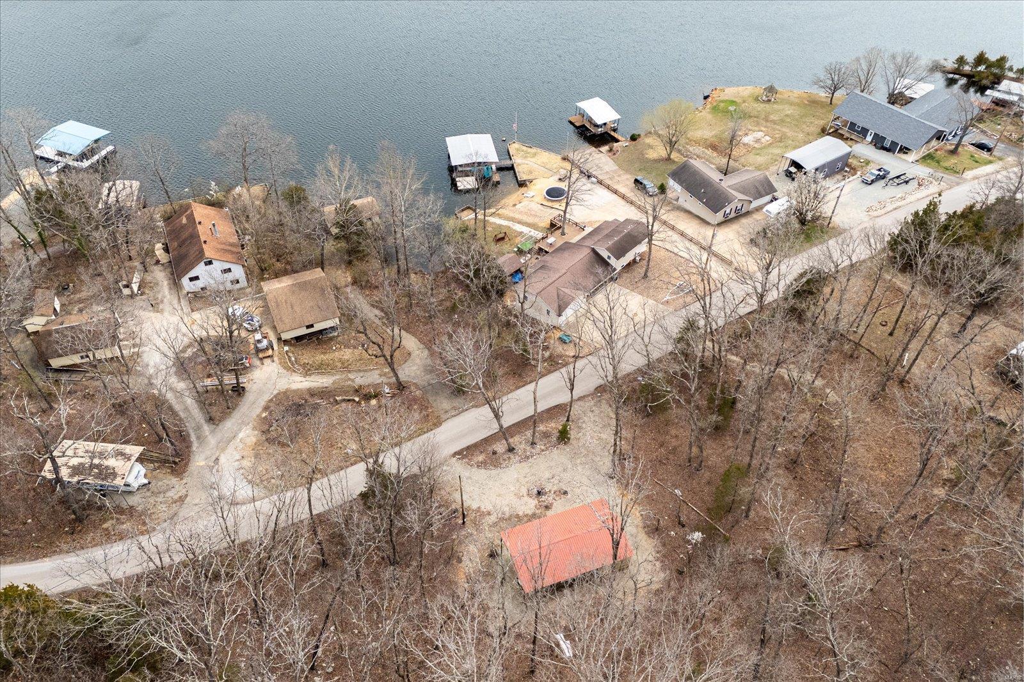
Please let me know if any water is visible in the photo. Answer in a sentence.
Yes, some water is visible.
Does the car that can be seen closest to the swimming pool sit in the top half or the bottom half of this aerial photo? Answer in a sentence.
Seen from above, the car that can be seen closest to the swimming pool lies in the top half of the view.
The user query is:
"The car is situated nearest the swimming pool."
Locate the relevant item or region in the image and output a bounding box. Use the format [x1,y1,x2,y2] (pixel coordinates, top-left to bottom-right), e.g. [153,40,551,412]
[634,174,657,196]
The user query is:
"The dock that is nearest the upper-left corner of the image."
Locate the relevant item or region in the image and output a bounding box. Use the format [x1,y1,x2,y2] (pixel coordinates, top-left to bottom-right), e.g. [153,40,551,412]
[35,120,117,175]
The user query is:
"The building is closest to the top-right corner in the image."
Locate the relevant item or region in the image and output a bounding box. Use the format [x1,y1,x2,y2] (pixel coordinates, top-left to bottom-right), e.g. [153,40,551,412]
[827,87,980,164]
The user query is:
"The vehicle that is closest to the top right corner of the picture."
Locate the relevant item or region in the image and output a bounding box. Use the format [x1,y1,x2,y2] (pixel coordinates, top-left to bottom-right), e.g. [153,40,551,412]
[969,138,997,153]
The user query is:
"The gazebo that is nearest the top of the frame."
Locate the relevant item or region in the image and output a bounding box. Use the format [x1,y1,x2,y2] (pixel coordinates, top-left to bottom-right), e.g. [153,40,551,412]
[759,79,781,99]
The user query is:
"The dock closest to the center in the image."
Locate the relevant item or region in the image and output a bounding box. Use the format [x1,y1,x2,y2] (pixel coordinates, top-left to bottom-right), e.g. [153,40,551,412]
[445,132,515,184]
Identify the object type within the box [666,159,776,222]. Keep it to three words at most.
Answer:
house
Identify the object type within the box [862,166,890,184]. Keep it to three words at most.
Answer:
vehicle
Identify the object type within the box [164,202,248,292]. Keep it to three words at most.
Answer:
house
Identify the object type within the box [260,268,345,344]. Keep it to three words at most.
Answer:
building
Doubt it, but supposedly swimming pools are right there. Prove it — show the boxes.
[544,181,570,200]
